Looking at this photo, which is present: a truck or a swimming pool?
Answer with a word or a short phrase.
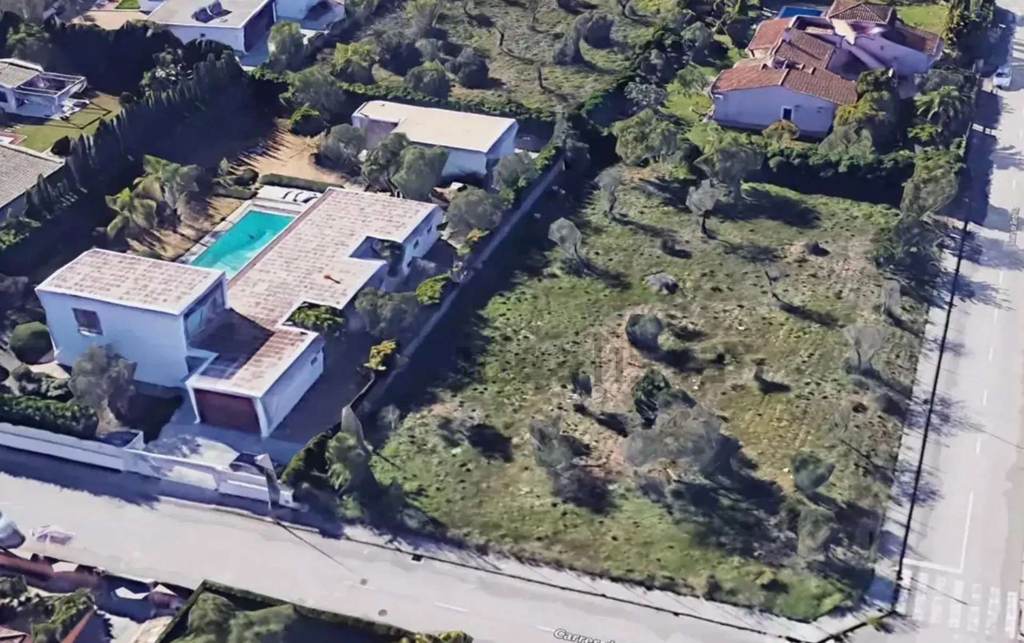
swimming pool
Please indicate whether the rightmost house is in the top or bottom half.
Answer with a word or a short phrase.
top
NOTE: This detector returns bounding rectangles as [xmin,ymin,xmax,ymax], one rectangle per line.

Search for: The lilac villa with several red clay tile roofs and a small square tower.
[714,1,943,133]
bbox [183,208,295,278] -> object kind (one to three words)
swimming pool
